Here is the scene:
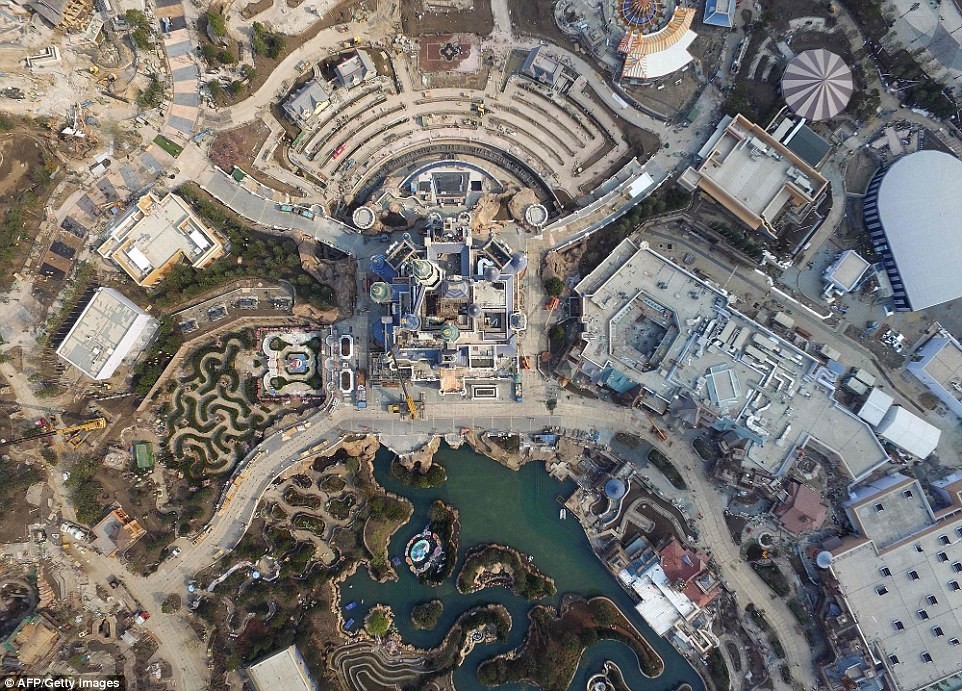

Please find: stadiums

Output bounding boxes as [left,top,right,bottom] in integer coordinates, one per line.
[864,150,962,312]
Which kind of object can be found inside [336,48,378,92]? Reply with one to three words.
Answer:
house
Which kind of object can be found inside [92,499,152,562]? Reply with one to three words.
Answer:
house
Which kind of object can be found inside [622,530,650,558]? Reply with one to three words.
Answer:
shed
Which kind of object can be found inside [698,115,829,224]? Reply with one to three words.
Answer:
building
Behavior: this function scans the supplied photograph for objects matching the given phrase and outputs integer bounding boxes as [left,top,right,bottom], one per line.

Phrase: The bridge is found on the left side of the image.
[199,165,358,256]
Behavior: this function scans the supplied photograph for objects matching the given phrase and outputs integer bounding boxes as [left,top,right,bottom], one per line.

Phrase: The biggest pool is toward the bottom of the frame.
[412,543,428,561]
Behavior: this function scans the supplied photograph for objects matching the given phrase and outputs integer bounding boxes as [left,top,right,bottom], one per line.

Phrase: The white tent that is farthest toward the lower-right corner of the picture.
[877,406,941,459]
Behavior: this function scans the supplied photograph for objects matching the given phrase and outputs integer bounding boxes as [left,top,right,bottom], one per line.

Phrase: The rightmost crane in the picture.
[386,347,421,423]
